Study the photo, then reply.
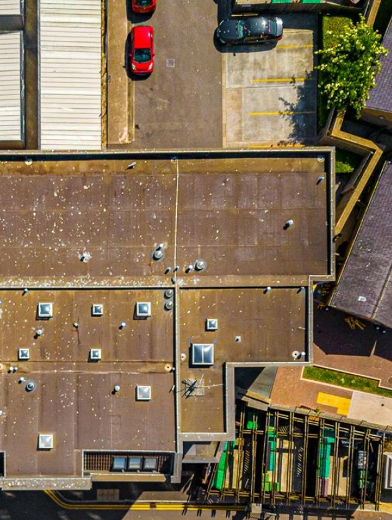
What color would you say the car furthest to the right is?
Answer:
black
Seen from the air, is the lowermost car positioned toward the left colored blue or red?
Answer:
red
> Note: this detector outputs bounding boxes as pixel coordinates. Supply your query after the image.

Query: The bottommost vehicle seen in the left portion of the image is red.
[127,26,156,78]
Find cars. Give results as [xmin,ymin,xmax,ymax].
[127,26,156,78]
[213,14,282,48]
[131,0,156,15]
